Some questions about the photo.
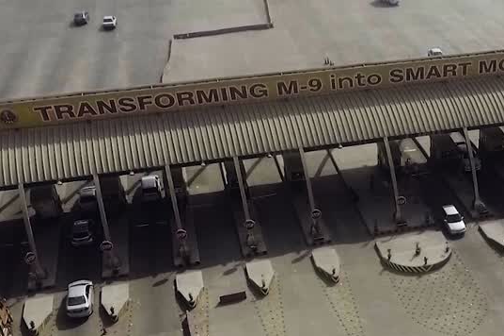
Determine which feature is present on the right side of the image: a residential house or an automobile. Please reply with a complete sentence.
Looking on the right side of the image, you will find an automobile.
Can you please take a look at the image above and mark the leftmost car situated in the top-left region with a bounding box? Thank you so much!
[74,11,91,25]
